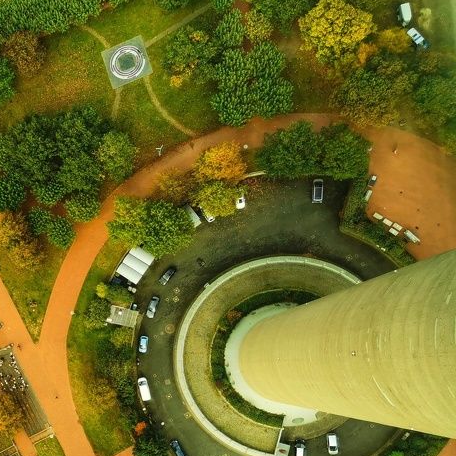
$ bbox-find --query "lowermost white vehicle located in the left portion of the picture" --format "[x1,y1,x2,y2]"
[138,378,151,400]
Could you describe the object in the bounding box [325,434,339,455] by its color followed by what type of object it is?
white vehicle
